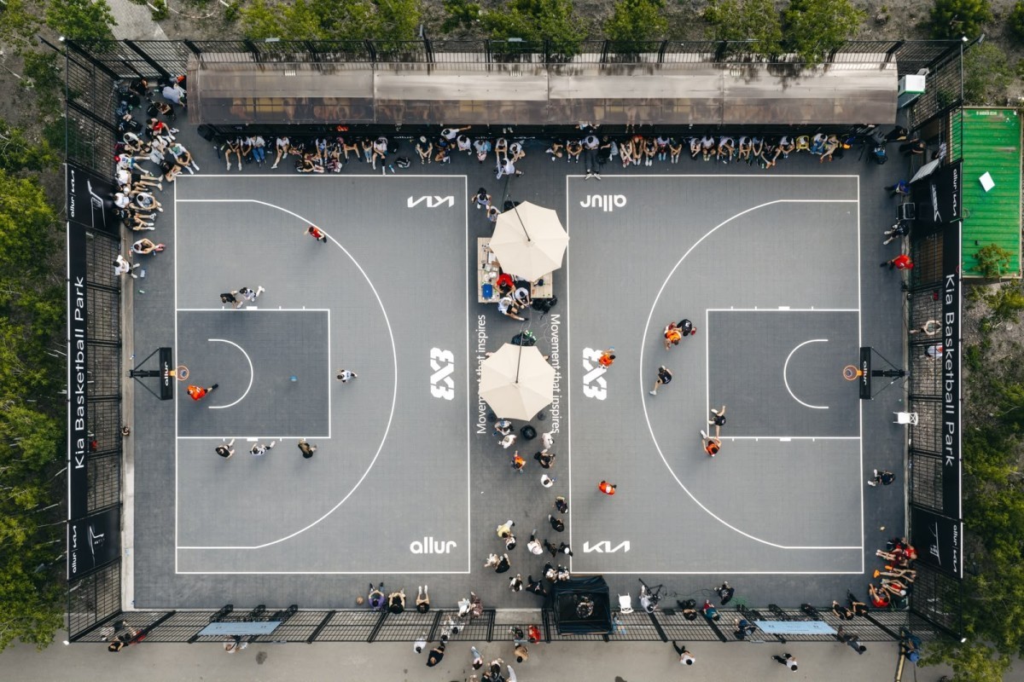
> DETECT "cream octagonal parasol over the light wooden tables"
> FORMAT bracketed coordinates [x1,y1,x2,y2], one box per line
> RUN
[490,201,569,282]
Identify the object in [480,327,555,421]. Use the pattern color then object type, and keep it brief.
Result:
white umbrella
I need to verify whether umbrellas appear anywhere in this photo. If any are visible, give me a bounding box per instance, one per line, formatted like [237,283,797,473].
[480,327,555,421]
[490,201,569,282]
